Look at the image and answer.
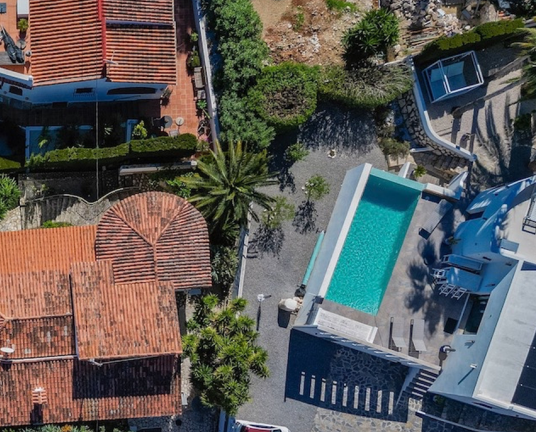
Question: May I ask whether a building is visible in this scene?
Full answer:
Yes, a building can be made out from above.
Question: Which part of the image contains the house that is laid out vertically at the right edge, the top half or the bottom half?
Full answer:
The house that is laid out vertically at the right edge is in the bottom half of the image.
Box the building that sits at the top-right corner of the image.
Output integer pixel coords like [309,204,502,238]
[426,47,498,99]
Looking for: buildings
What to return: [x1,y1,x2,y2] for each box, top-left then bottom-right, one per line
[426,47,498,99]
[0,0,177,100]
[433,173,536,416]
[0,190,213,429]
